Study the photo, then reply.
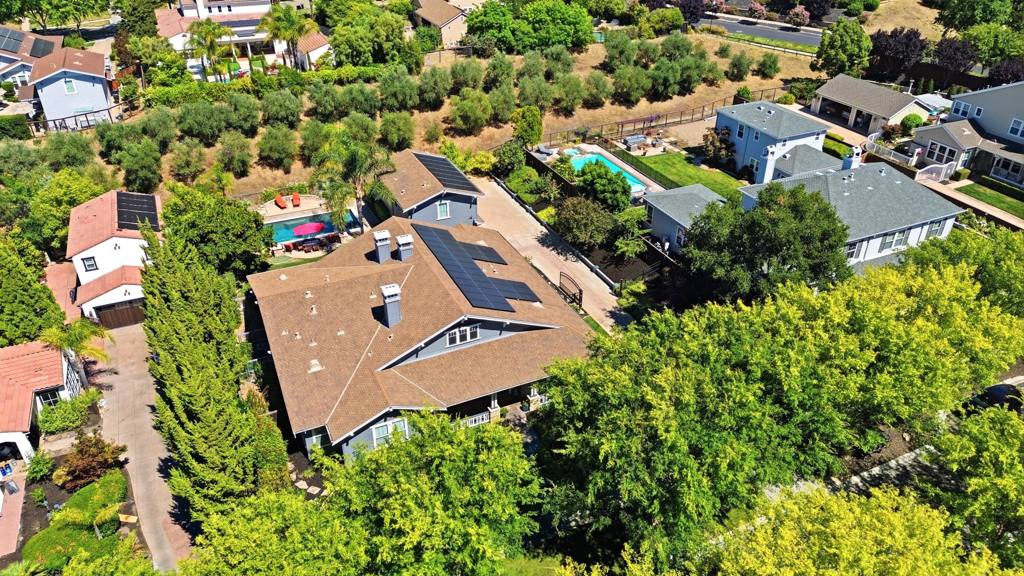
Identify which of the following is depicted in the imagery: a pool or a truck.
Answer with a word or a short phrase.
pool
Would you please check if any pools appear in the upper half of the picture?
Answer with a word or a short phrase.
Yes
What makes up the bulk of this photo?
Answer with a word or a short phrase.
trees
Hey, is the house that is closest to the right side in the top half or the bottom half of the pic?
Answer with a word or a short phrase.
top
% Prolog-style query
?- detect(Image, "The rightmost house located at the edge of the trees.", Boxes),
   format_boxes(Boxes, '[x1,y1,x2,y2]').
[911,82,1024,190]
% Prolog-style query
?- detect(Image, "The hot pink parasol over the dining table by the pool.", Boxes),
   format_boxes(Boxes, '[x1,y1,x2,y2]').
[291,220,324,247]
